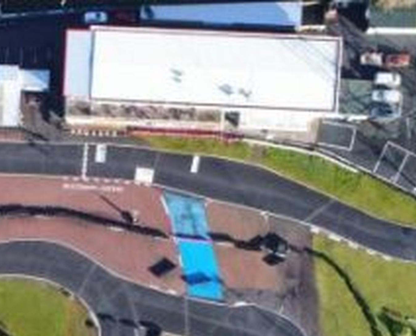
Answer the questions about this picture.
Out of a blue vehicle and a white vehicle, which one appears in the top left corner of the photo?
blue vehicle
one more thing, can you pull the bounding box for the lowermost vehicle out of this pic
[372,101,402,116]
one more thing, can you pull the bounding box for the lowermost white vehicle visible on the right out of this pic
[373,86,405,102]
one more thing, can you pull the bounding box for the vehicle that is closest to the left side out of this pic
[80,5,113,23]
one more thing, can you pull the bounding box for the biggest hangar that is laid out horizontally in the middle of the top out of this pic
[88,24,344,126]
